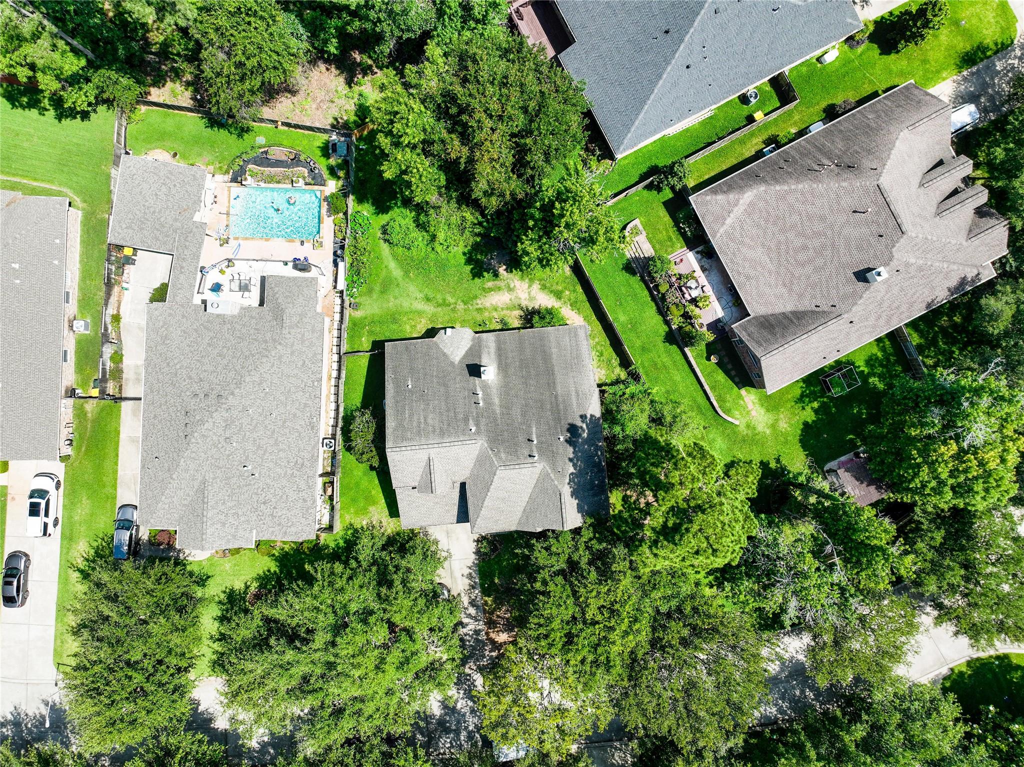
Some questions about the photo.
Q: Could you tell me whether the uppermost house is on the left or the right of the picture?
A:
right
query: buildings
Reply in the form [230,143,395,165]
[384,324,612,534]
[548,0,865,162]
[0,191,87,463]
[688,79,1008,395]
[137,275,328,552]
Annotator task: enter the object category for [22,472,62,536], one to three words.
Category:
car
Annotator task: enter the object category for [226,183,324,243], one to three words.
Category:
swimming pool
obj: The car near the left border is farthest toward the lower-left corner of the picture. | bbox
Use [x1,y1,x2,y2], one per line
[0,548,32,612]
